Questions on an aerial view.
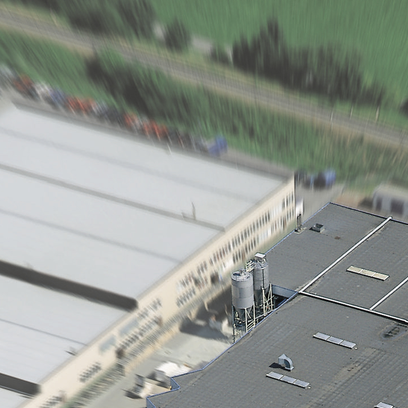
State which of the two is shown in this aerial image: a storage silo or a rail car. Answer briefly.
storage silo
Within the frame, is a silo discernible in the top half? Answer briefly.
No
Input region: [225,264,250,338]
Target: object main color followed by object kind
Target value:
gray silo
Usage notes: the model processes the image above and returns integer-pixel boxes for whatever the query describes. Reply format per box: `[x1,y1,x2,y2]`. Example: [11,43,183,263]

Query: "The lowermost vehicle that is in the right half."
[304,171,334,192]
